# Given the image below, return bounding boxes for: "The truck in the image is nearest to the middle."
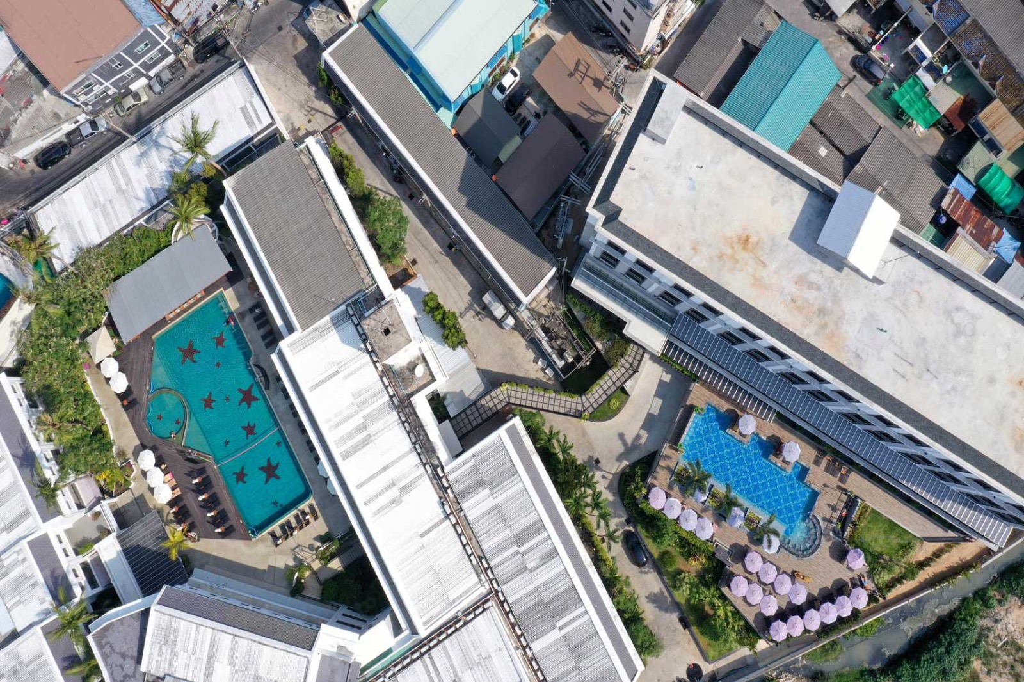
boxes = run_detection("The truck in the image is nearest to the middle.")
[481,292,520,330]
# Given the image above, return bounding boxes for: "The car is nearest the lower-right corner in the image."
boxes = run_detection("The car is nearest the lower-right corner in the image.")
[619,528,650,568]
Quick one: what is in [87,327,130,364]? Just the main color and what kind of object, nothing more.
white tent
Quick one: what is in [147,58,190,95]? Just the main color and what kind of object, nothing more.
gray truck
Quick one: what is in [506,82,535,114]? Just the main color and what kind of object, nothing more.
black car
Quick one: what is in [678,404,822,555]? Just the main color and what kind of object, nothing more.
blue swimming pool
